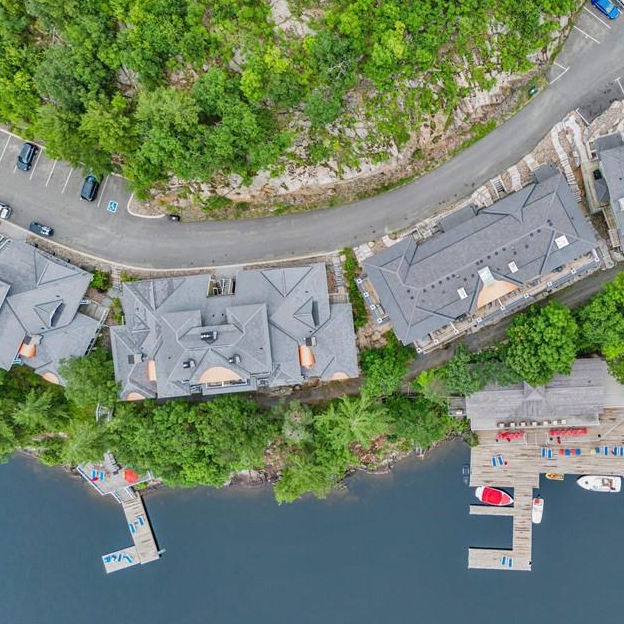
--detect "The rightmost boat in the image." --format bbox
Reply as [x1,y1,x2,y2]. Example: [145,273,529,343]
[577,477,624,493]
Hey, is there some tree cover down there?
Yes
